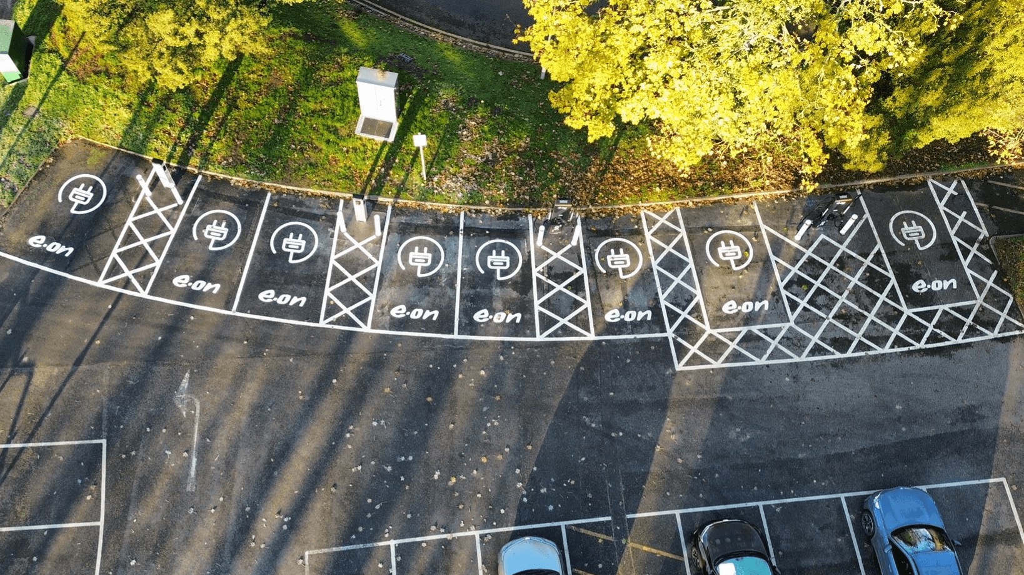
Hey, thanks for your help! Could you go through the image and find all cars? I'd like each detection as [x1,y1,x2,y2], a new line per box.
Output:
[697,519,775,575]
[870,489,968,575]
[499,536,566,575]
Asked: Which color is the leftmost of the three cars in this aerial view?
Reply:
blue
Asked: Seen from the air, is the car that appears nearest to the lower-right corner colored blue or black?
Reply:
blue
